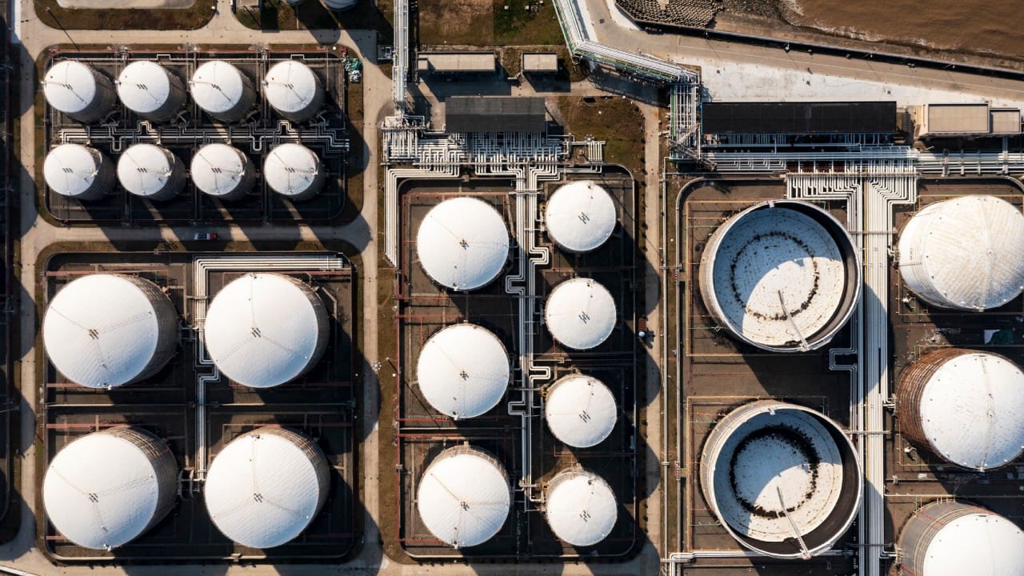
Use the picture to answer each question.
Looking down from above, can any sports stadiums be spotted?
No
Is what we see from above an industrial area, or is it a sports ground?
industrial area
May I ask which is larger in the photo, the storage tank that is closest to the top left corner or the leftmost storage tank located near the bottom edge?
the leftmost storage tank located near the bottom edge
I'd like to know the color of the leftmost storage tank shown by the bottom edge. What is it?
white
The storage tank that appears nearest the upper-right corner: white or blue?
white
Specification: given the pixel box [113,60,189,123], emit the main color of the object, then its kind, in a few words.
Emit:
white storage tank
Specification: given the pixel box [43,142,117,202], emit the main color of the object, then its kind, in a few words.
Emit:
white storage tank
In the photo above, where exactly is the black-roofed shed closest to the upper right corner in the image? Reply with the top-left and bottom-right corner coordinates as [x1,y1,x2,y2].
[697,101,896,137]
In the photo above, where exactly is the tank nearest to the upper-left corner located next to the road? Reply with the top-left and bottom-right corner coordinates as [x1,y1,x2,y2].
[38,60,118,123]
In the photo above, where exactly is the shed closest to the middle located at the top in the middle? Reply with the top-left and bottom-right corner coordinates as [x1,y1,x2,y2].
[445,97,547,135]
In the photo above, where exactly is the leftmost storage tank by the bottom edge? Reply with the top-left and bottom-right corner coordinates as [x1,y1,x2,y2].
[43,426,178,553]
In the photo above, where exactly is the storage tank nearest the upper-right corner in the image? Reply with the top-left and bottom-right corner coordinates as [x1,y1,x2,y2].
[895,195,1024,310]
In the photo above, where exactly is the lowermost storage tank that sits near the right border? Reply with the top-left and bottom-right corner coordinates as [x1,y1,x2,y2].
[898,499,1024,576]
